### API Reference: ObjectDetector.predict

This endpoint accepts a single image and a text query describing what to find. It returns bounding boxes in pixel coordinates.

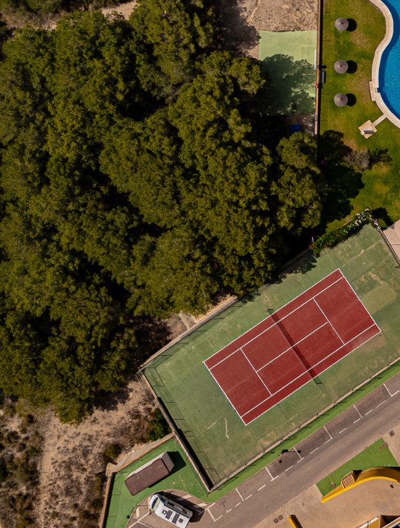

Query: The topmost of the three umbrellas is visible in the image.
[334,17,348,31]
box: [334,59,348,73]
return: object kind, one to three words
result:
umbrella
